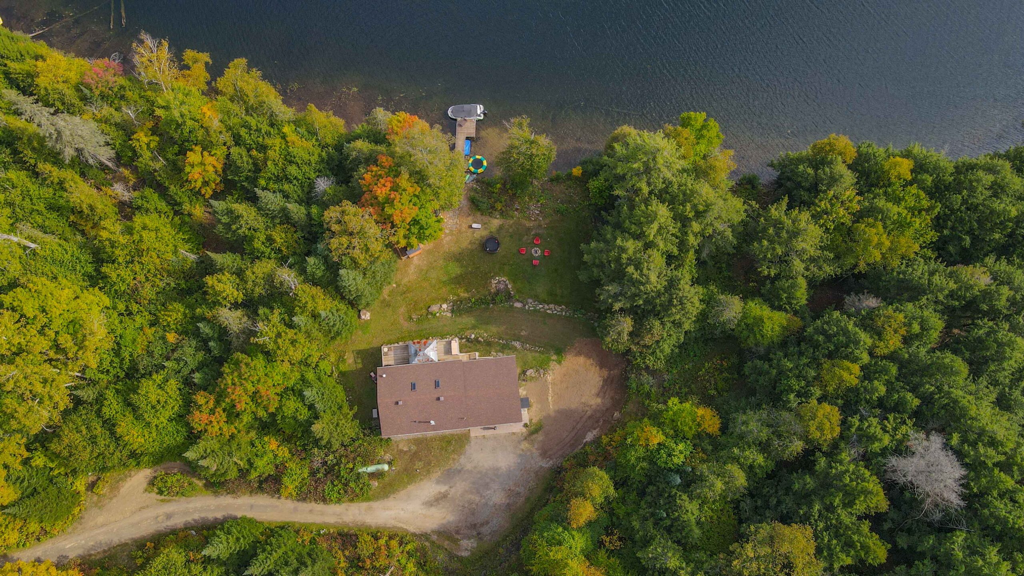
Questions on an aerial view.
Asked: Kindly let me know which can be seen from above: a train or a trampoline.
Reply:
trampoline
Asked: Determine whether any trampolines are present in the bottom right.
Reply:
No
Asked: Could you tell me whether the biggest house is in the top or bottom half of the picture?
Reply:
bottom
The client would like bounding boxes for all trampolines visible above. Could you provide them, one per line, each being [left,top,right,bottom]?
[484,234,500,253]
[469,156,486,173]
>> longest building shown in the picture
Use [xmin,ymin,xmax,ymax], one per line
[377,355,522,438]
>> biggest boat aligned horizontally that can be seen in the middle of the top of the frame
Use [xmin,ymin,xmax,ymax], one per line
[448,104,487,120]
